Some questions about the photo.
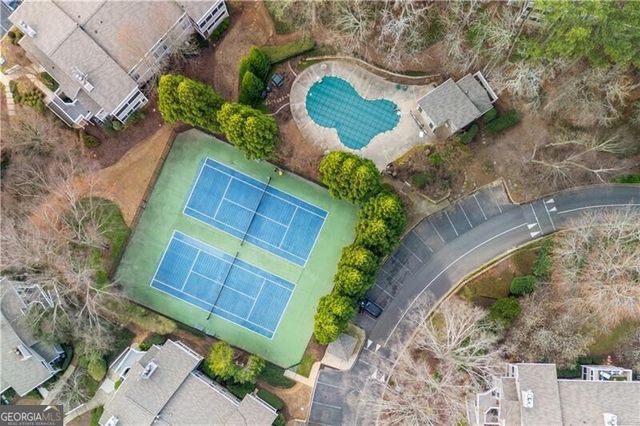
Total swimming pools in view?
1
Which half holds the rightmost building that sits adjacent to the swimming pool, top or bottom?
top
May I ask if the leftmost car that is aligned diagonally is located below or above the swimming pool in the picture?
below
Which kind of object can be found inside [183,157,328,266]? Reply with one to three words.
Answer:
tennis court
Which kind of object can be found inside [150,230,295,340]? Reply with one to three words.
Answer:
tennis court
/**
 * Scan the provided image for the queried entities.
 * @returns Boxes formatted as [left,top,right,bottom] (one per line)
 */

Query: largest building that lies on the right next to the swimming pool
[416,69,500,138]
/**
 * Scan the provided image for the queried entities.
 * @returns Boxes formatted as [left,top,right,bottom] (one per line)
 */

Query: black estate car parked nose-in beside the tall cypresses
[359,298,386,320]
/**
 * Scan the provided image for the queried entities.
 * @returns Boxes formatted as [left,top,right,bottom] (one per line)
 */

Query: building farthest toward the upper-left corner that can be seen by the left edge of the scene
[8,0,229,128]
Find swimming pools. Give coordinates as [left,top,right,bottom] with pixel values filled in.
[301,72,403,153]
